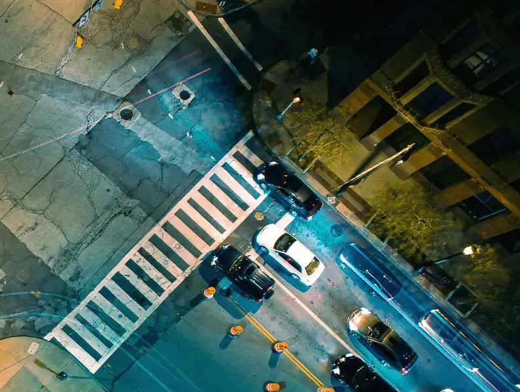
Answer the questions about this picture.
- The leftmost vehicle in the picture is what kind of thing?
automobile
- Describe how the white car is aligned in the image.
diagonally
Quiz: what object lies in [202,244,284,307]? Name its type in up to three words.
car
